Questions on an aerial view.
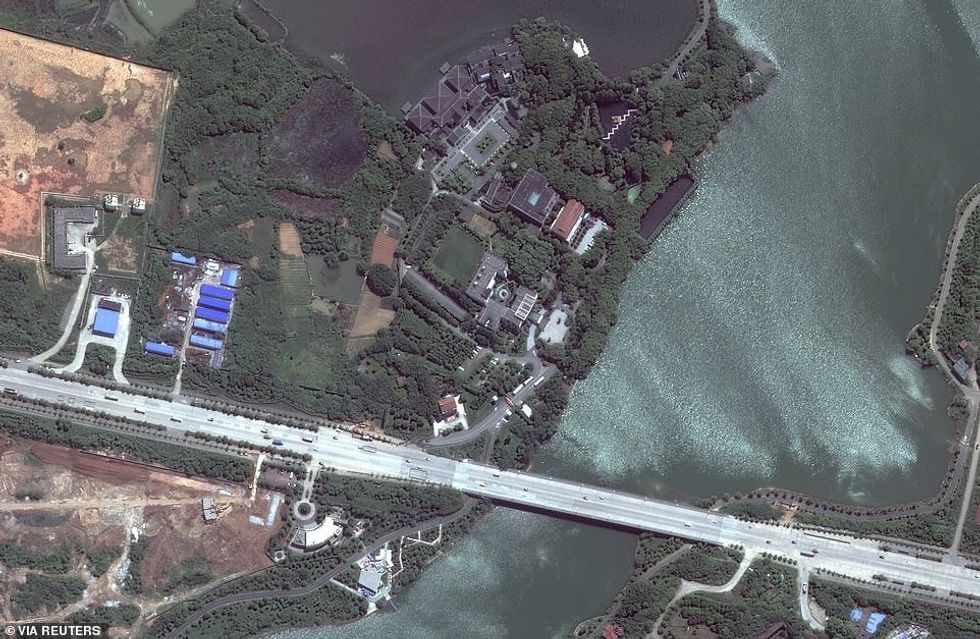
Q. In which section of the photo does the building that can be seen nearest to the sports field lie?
center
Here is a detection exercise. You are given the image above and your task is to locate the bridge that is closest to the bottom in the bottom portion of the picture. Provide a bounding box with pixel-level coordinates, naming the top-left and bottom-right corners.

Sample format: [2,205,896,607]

[455,454,724,547]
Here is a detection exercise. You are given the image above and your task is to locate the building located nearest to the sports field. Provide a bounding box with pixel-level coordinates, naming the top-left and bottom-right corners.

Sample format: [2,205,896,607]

[466,253,506,306]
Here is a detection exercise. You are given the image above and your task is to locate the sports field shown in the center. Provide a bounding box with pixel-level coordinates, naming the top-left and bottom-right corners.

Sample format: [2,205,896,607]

[430,224,485,285]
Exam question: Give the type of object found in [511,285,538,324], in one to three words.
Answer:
building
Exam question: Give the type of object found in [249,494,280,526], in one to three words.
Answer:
shed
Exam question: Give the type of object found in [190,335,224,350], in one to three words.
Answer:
shed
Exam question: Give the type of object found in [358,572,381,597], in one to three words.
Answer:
building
